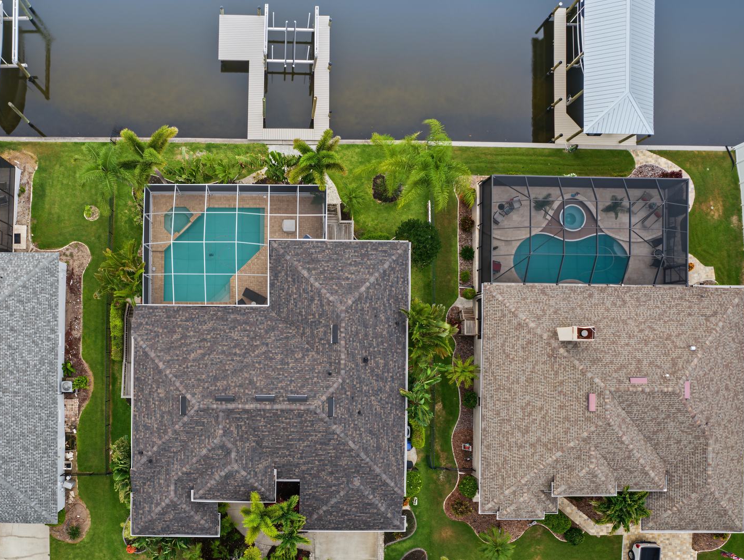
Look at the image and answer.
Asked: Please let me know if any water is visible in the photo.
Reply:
Yes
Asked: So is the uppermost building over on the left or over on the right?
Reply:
right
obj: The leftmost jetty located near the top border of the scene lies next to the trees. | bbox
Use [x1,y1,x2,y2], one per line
[219,14,329,140]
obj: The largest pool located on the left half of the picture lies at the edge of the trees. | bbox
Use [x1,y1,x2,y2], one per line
[162,205,266,304]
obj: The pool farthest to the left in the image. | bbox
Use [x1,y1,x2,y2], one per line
[162,205,194,236]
